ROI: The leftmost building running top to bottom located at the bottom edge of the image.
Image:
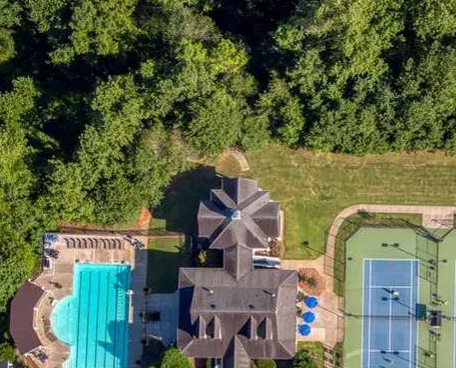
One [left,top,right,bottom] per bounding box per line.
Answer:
[11,279,49,356]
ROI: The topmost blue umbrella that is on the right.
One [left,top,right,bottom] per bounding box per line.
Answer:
[304,296,317,309]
